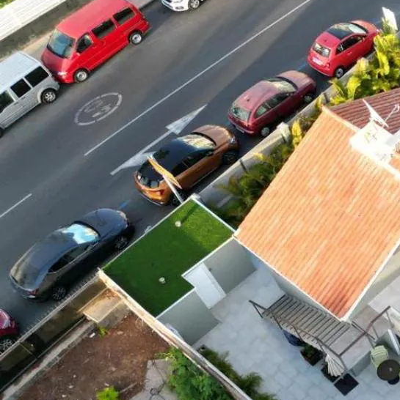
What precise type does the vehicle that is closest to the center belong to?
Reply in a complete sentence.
In the photo, the vehicle that is closest to the center shows up as an automobile.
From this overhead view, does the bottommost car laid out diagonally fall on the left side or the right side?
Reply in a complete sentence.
It is on the left.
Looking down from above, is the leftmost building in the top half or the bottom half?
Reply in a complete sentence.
The bottom half of the photo is where the leftmost building is.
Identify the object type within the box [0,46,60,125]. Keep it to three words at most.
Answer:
van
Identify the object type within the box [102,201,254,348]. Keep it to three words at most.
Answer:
building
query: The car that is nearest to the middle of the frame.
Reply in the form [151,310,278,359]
[131,120,236,203]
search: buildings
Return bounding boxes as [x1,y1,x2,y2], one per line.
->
[102,201,254,348]
[234,80,400,381]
